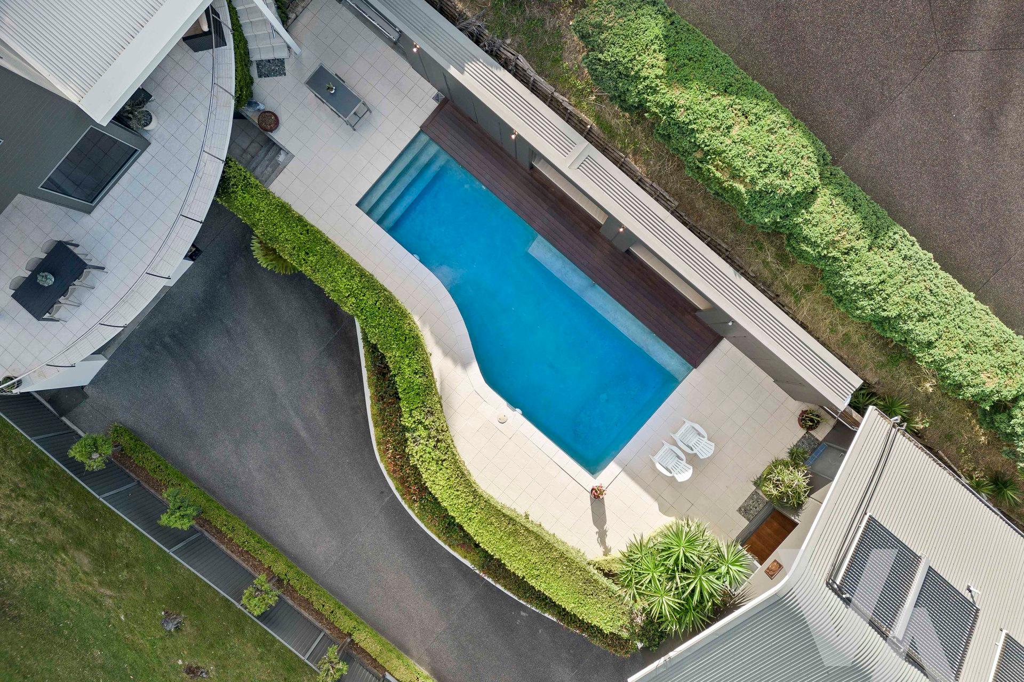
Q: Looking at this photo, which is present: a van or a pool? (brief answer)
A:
pool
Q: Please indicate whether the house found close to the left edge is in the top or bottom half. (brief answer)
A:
top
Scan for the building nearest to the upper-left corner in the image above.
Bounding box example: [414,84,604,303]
[0,0,240,397]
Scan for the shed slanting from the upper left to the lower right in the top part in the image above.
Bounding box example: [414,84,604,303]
[348,0,870,422]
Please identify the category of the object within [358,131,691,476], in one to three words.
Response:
swimming pool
